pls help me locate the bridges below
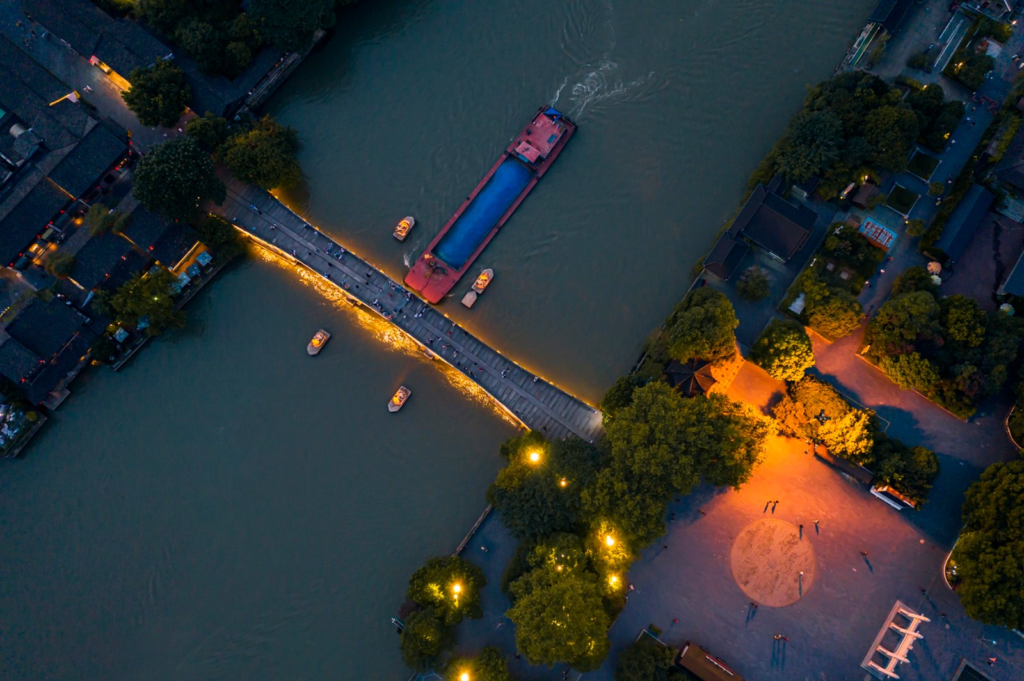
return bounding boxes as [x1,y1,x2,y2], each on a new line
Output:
[208,167,609,465]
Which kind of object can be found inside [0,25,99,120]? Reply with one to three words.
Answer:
house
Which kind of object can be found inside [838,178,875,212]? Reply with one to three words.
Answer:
building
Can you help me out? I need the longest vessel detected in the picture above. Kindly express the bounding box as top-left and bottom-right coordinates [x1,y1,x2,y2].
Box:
[407,105,577,301]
